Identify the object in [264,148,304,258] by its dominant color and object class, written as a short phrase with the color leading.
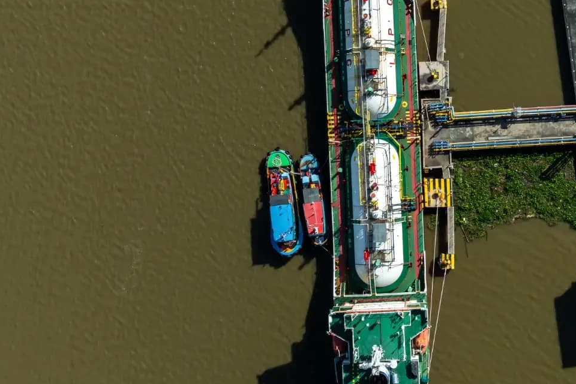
blue boat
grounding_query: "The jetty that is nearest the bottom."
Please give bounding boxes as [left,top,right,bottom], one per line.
[422,97,576,169]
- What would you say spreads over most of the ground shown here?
water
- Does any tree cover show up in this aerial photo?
No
